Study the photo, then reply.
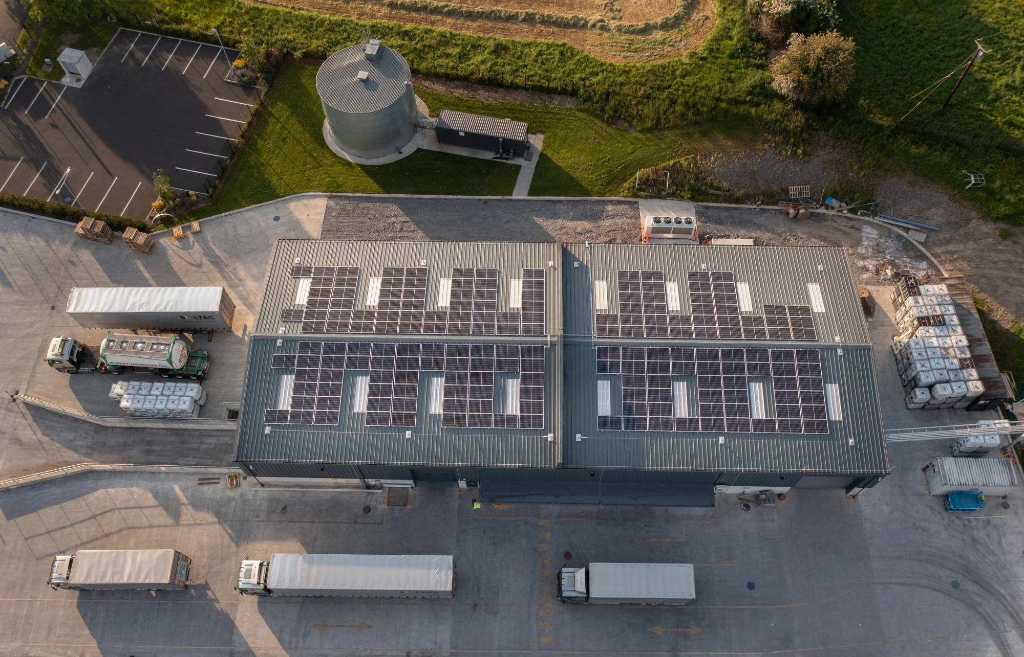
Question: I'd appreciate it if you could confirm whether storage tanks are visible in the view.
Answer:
Yes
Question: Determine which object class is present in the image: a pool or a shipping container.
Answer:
shipping container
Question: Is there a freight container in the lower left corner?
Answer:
No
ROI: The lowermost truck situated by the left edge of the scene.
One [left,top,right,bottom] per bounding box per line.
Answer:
[49,549,198,594]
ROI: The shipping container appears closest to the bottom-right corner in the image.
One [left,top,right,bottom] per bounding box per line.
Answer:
[918,458,1019,495]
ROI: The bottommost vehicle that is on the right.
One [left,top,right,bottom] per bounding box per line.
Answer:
[555,562,696,606]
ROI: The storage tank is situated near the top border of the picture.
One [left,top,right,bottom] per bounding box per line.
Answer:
[316,28,437,161]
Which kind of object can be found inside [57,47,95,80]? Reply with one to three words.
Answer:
shed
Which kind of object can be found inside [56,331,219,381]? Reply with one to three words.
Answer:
truck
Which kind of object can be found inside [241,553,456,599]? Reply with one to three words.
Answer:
truck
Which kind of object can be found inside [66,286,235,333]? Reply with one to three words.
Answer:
trailer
